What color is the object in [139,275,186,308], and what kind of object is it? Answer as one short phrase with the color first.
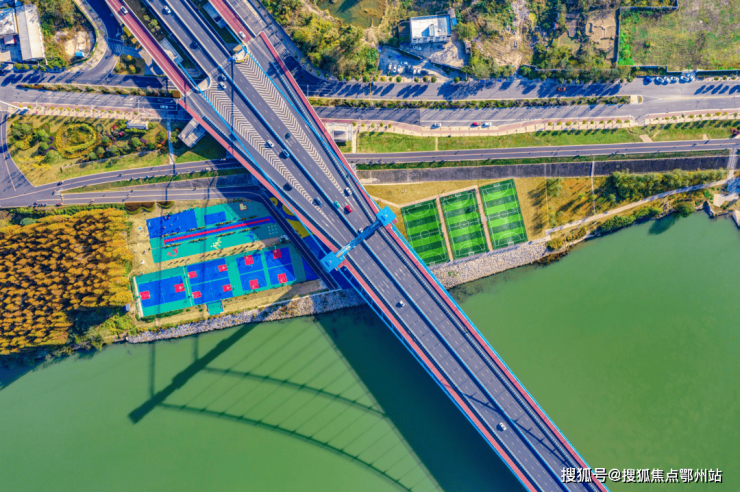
blue basketball court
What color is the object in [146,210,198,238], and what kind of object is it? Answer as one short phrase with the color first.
blue sports court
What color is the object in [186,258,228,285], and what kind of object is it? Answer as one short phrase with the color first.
blue basketball court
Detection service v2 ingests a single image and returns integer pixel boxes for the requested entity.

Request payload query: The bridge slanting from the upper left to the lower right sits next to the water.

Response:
[106,0,609,492]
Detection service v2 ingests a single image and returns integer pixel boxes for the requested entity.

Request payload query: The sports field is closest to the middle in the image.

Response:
[401,199,449,266]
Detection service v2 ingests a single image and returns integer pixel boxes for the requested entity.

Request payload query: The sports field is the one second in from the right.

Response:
[439,189,490,259]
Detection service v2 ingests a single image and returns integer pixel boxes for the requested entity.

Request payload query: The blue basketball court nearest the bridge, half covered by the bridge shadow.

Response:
[264,247,295,285]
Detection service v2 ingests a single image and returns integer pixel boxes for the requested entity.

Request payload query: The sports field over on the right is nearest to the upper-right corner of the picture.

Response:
[479,178,528,249]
